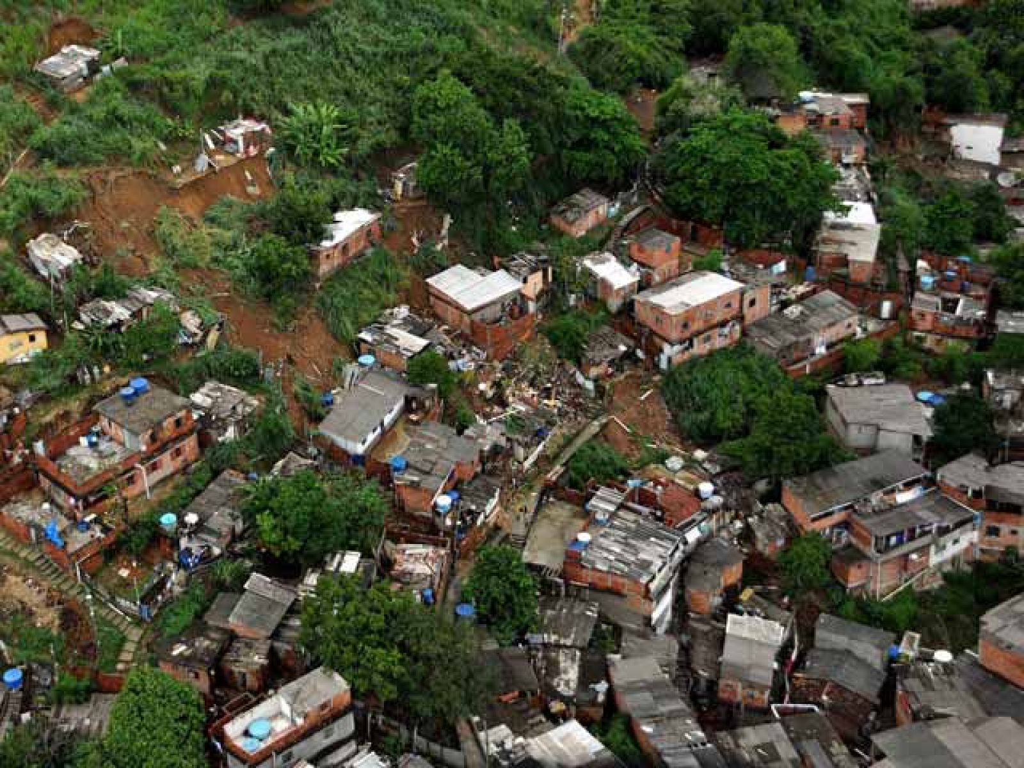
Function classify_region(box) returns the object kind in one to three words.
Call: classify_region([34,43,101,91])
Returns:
shed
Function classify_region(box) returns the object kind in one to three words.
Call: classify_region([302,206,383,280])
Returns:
house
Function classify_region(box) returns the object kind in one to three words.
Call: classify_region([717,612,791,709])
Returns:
house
